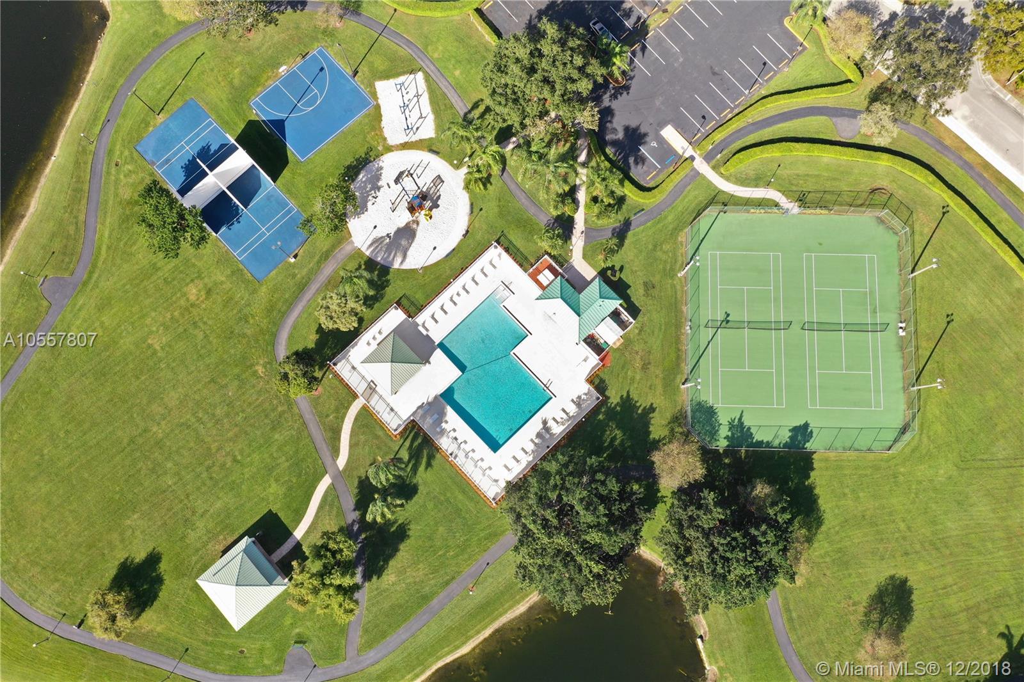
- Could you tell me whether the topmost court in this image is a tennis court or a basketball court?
basketball court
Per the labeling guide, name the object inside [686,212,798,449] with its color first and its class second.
green tennis court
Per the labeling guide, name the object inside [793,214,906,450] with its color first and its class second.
green tennis court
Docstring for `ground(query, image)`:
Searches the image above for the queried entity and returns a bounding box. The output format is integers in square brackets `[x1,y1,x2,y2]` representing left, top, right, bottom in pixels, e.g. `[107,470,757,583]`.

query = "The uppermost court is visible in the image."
[249,45,376,161]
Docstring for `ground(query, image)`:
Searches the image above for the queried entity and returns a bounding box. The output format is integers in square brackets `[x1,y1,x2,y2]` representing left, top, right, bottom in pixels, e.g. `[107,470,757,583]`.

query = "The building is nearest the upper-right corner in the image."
[535,275,623,344]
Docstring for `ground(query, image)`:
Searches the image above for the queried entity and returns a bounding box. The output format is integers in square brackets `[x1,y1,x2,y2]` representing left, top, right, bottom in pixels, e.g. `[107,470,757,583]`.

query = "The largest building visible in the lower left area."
[196,536,289,632]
